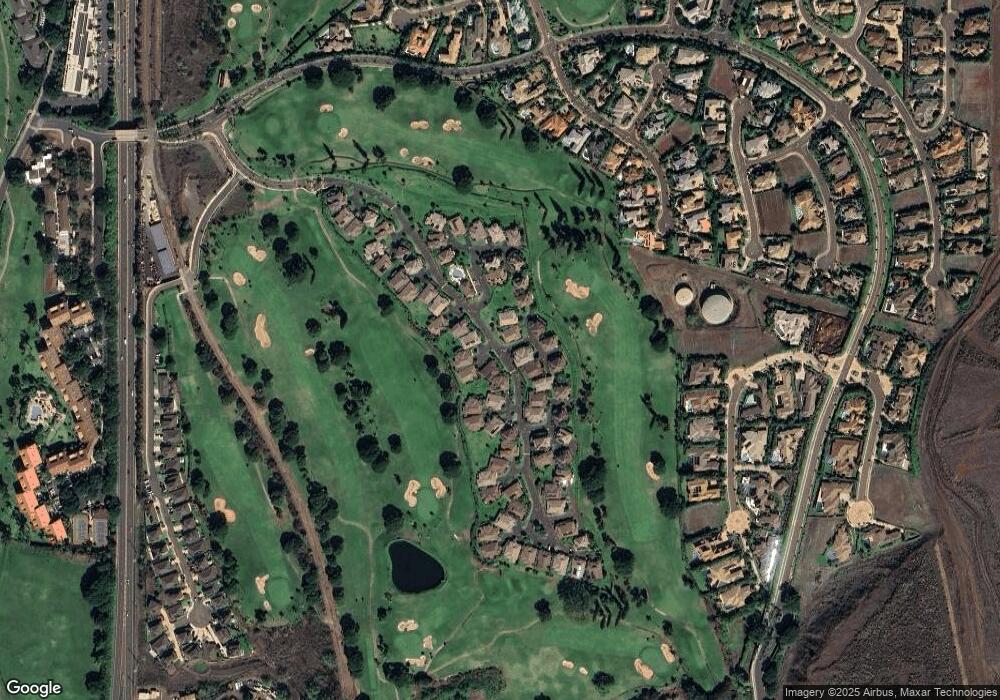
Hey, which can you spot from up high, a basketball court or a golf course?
golf course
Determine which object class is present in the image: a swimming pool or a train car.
swimming pool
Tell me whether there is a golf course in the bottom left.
Yes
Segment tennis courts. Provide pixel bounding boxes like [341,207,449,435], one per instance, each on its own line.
[72,513,91,544]
[91,515,108,544]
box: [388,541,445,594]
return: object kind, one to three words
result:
pond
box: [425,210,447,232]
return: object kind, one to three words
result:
house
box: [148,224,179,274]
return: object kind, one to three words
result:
shed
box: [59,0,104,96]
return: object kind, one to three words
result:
building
